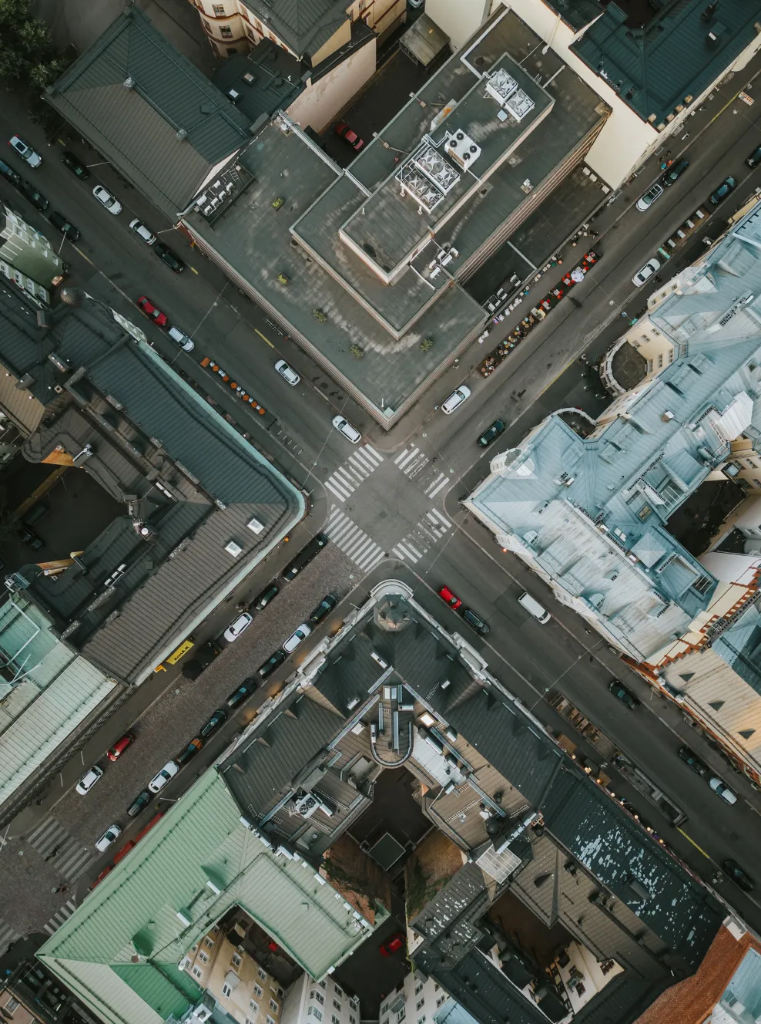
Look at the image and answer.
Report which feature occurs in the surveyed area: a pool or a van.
van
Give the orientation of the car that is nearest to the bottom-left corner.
diagonally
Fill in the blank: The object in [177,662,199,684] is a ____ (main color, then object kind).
black umbrella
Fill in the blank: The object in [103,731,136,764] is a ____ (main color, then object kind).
red car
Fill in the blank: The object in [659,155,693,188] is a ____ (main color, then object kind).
black car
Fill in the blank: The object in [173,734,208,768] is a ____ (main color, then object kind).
black car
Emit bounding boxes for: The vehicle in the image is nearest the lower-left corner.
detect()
[90,820,126,856]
